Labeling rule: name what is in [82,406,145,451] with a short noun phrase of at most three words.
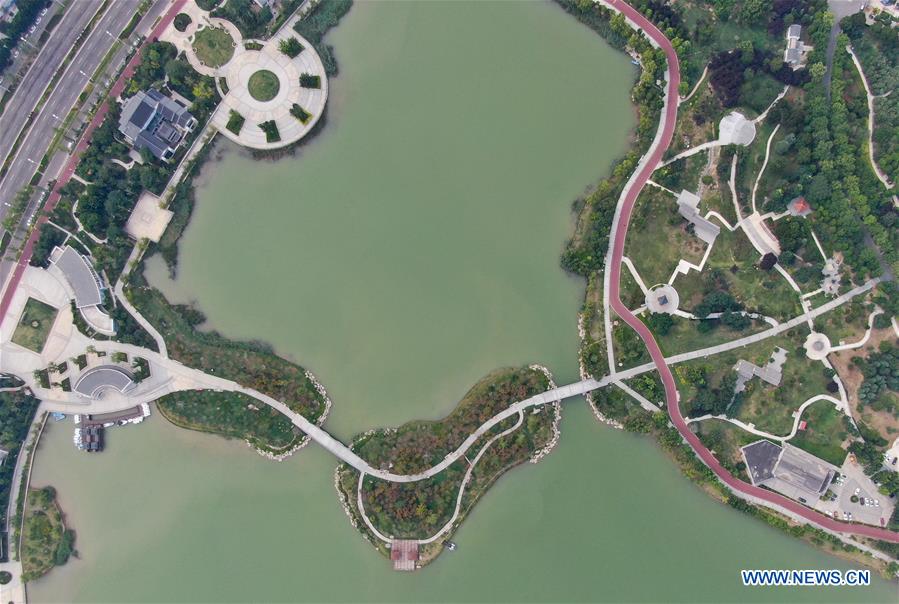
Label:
pier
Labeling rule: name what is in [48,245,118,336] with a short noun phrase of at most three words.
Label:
building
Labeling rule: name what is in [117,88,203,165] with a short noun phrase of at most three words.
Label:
house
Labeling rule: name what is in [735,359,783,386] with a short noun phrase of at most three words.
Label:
building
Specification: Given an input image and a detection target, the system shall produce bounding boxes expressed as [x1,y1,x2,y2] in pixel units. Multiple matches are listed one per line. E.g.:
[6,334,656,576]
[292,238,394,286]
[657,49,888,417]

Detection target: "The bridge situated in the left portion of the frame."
[299,419,356,463]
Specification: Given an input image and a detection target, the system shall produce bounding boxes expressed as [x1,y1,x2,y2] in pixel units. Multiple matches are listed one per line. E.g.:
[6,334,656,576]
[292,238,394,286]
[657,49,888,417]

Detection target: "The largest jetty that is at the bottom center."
[392,539,418,570]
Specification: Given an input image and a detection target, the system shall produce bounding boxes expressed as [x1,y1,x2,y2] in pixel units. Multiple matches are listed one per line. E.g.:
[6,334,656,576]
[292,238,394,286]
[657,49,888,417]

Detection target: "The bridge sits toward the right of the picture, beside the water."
[534,378,597,404]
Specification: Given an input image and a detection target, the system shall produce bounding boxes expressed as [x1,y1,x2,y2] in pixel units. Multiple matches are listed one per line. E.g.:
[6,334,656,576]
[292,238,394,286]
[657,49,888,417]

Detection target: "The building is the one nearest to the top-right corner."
[782,25,803,65]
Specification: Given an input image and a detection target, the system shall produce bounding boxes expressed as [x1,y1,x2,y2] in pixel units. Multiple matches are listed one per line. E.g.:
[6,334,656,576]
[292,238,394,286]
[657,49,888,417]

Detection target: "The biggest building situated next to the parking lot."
[737,437,837,494]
